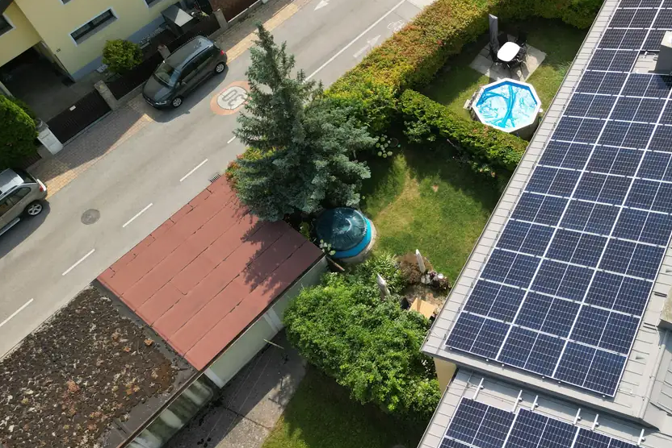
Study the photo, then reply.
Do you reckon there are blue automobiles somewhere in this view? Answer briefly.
No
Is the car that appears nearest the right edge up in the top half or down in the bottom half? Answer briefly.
top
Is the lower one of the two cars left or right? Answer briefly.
left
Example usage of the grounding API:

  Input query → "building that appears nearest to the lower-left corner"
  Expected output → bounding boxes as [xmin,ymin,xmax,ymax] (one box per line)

[0,277,218,448]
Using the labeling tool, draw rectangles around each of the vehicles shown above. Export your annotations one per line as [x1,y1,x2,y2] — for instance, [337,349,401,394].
[0,165,46,233]
[137,37,229,112]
